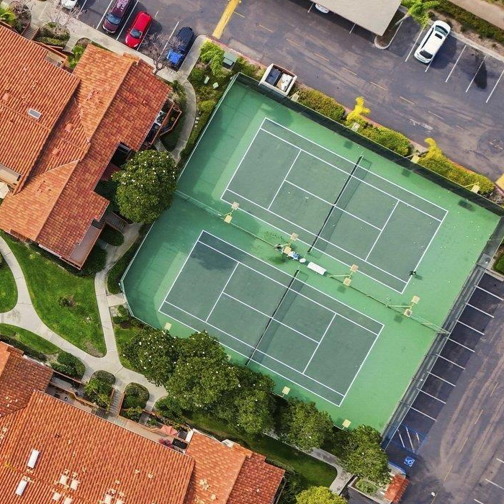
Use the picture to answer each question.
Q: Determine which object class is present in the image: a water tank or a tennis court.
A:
tennis court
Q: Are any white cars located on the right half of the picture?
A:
Yes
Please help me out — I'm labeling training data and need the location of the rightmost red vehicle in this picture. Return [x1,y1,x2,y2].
[123,10,154,51]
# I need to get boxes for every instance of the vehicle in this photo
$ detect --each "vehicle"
[58,0,79,12]
[312,4,328,17]
[413,21,449,66]
[100,0,134,36]
[165,24,199,72]
[123,10,154,51]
